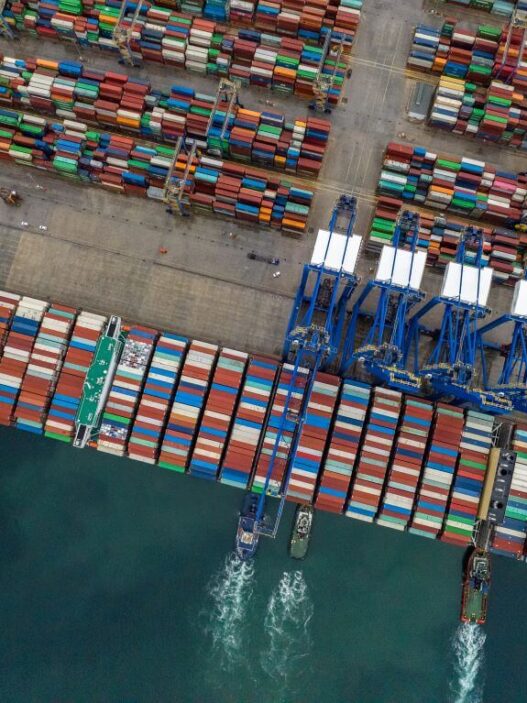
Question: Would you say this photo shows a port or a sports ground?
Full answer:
The area seen from above is a port.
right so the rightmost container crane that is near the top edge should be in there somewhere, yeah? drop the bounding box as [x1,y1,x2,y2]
[482,8,527,91]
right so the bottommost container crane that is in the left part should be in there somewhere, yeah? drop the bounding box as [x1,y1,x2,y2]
[162,136,203,216]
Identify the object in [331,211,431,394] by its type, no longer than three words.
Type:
container crane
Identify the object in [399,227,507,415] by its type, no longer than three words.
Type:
container crane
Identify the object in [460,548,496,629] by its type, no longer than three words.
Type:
boat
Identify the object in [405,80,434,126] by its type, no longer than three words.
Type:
shed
